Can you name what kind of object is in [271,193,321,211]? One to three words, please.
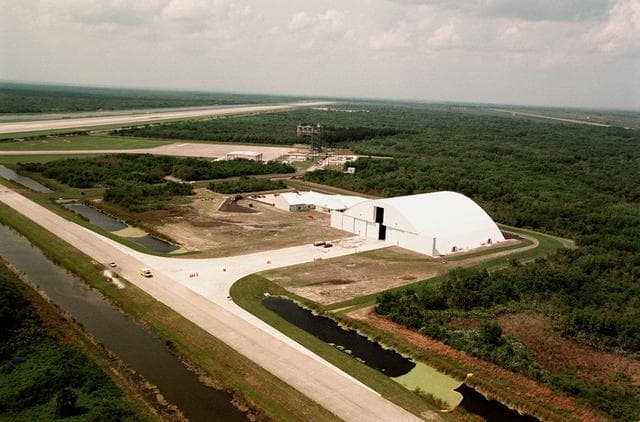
building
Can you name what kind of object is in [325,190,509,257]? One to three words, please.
hangar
